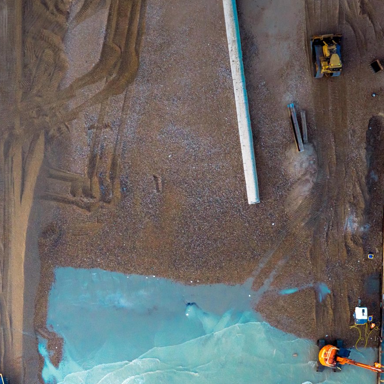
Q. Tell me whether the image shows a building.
No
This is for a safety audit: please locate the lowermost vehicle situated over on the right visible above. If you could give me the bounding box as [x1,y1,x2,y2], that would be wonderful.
[311,338,381,372]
